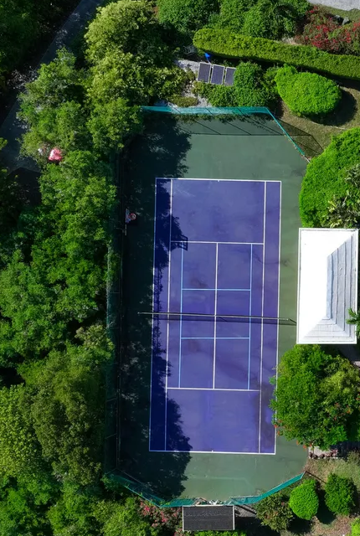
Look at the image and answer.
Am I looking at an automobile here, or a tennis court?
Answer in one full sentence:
There is a tennis court in the scene.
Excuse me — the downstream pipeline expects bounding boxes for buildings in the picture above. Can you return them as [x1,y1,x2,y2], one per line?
[181,499,240,532]
[295,227,360,345]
